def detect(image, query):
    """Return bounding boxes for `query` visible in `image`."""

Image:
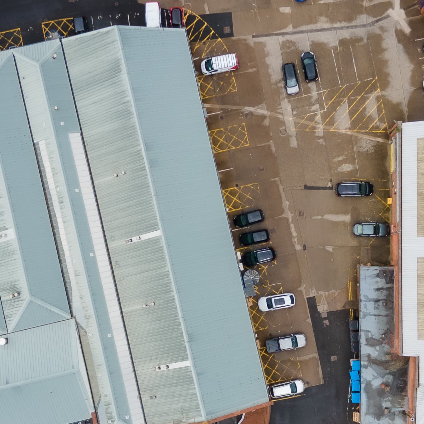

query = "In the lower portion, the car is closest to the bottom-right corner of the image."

[269,379,305,398]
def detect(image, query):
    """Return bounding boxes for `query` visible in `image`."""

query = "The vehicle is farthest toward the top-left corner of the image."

[71,16,89,34]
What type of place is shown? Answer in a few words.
industrial area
